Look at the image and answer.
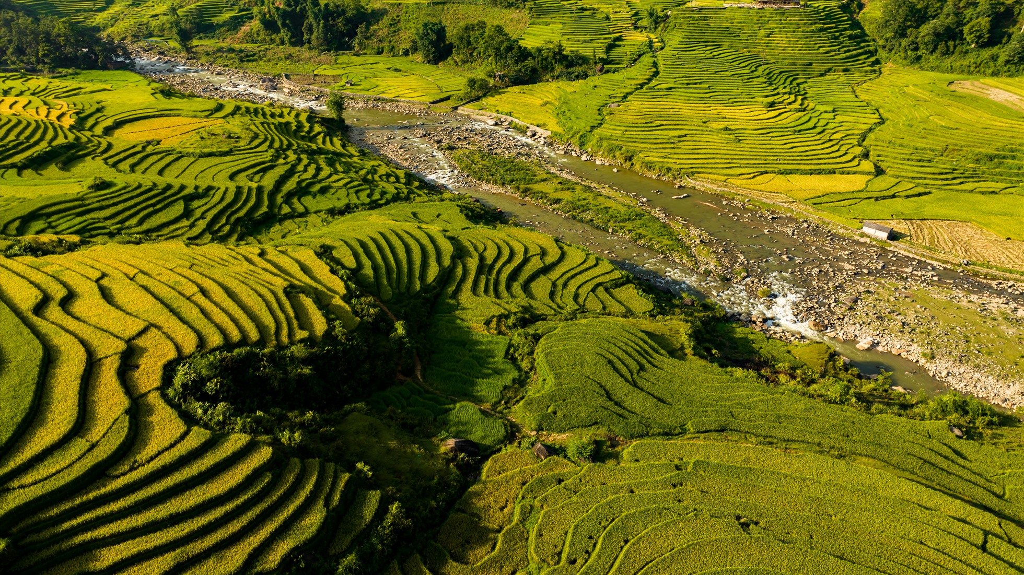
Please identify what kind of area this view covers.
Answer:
farmland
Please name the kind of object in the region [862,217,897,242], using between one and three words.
shed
